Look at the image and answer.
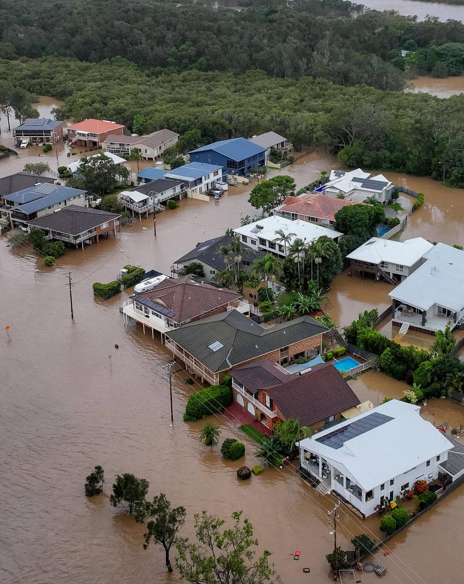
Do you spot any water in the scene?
Yes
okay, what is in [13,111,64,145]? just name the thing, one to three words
house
